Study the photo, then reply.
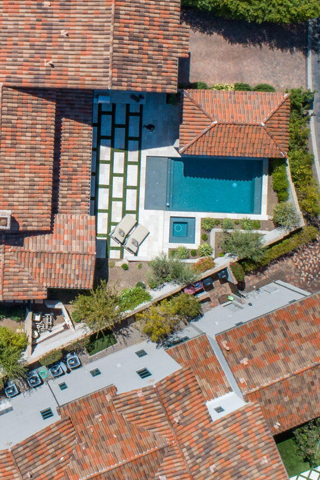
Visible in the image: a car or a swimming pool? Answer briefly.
swimming pool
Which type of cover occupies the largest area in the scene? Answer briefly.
buildings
